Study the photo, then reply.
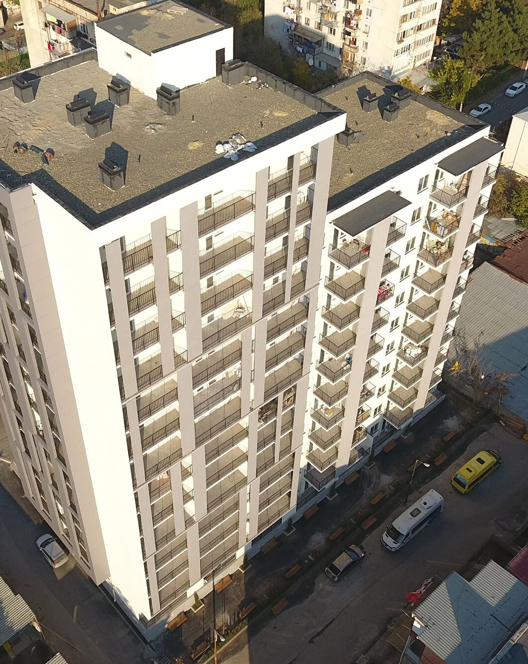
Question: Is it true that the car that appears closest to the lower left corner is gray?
Yes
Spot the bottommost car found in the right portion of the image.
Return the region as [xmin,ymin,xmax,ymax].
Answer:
[318,543,366,586]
